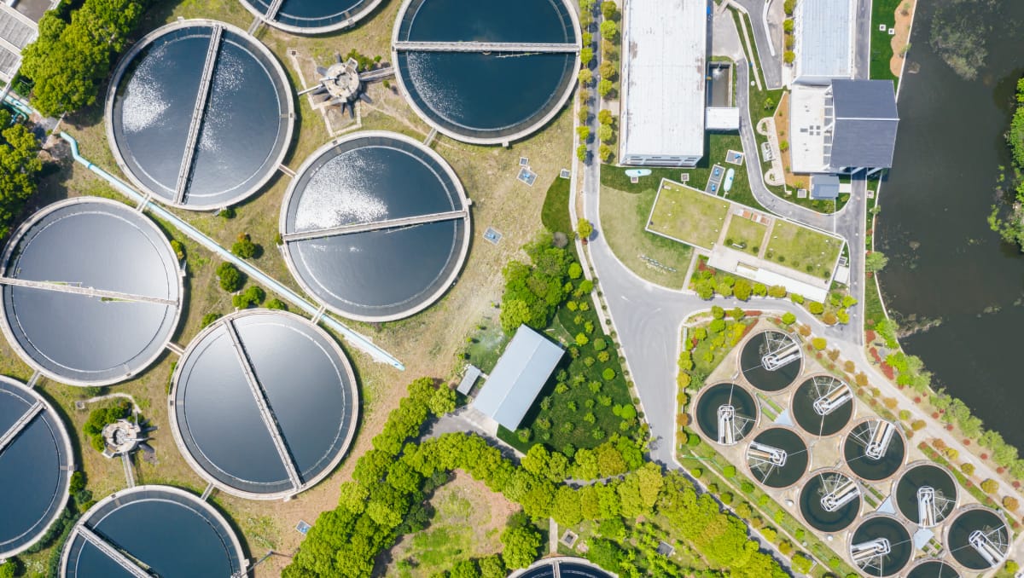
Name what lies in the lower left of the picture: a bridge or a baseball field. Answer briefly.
bridge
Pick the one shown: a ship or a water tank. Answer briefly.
water tank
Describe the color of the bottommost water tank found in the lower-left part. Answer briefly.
blue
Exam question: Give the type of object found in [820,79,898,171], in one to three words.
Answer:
building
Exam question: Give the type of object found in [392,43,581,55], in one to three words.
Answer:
bridge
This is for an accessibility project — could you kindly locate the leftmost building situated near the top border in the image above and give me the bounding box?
[620,0,707,163]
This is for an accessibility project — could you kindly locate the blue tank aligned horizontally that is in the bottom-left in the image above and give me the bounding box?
[59,483,257,578]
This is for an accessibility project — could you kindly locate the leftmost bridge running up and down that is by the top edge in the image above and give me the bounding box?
[175,20,225,208]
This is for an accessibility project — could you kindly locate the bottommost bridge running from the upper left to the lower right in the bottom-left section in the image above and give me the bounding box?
[73,522,158,578]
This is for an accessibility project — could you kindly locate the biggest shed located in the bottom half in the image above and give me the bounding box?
[473,324,566,431]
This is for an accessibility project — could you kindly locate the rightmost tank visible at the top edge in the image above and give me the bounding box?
[392,0,582,149]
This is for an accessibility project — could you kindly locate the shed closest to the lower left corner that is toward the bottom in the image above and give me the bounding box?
[458,365,481,395]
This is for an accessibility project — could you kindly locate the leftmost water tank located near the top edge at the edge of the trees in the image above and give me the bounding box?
[105,16,298,213]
